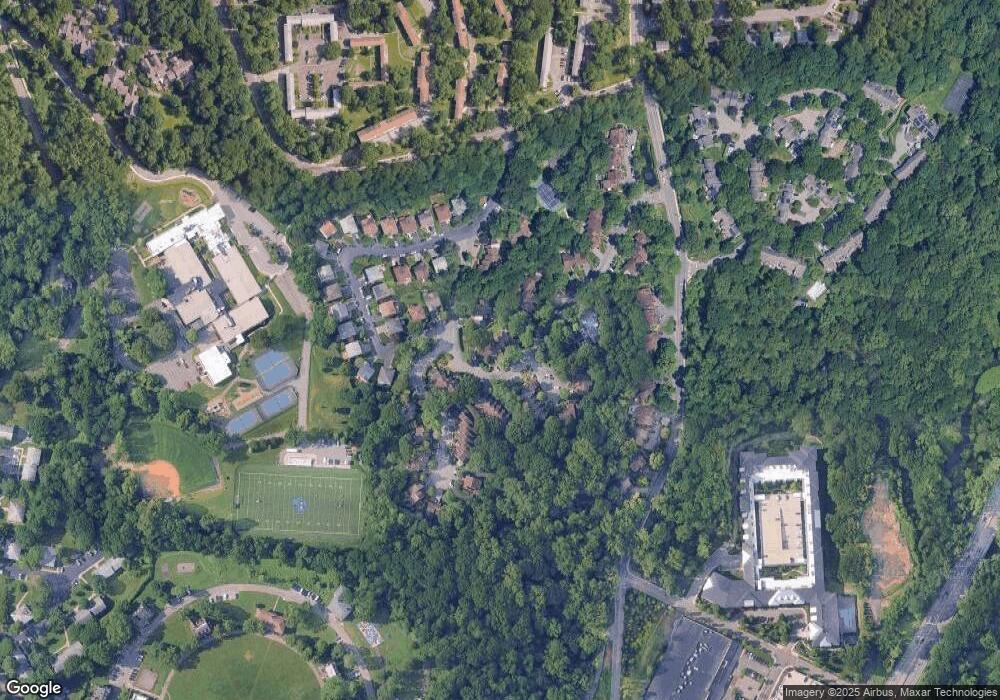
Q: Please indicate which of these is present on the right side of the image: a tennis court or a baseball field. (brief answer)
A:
tennis court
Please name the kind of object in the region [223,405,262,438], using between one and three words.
tennis court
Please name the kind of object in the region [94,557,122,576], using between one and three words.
house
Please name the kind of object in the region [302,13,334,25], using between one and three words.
building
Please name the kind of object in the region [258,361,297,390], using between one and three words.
tennis court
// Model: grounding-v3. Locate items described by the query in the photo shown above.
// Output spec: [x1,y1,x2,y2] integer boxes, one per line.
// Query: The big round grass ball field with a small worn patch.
[174,634,318,700]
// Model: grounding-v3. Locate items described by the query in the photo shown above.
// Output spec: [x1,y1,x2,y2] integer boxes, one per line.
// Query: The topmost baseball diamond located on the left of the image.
[125,421,222,500]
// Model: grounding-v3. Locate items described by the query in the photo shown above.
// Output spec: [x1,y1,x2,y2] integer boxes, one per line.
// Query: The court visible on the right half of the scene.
[944,73,973,112]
